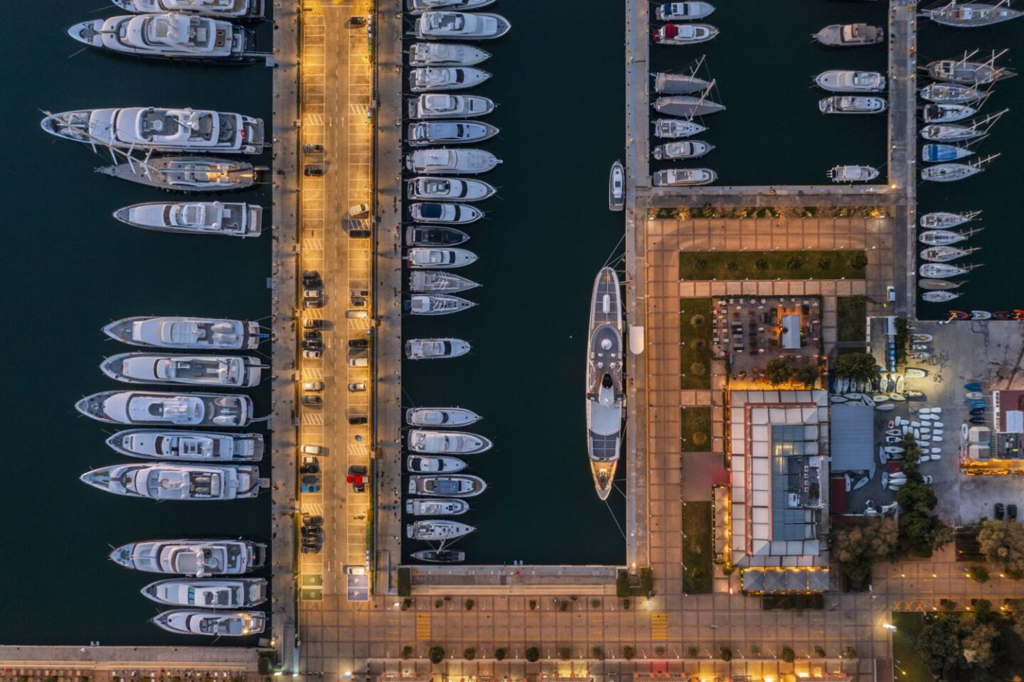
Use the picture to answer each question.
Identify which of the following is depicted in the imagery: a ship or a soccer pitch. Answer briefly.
ship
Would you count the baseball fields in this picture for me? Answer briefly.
none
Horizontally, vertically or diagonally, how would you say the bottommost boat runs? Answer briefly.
horizontally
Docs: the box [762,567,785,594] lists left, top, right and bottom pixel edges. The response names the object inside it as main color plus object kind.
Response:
gray tent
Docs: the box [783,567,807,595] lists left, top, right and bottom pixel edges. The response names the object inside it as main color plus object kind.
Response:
gray tent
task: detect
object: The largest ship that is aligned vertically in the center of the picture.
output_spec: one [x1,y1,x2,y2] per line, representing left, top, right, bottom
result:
[585,234,638,541]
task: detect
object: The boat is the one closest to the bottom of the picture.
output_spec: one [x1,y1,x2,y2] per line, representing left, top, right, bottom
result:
[151,608,266,644]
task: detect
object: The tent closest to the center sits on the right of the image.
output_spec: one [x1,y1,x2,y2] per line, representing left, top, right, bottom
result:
[628,326,643,353]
